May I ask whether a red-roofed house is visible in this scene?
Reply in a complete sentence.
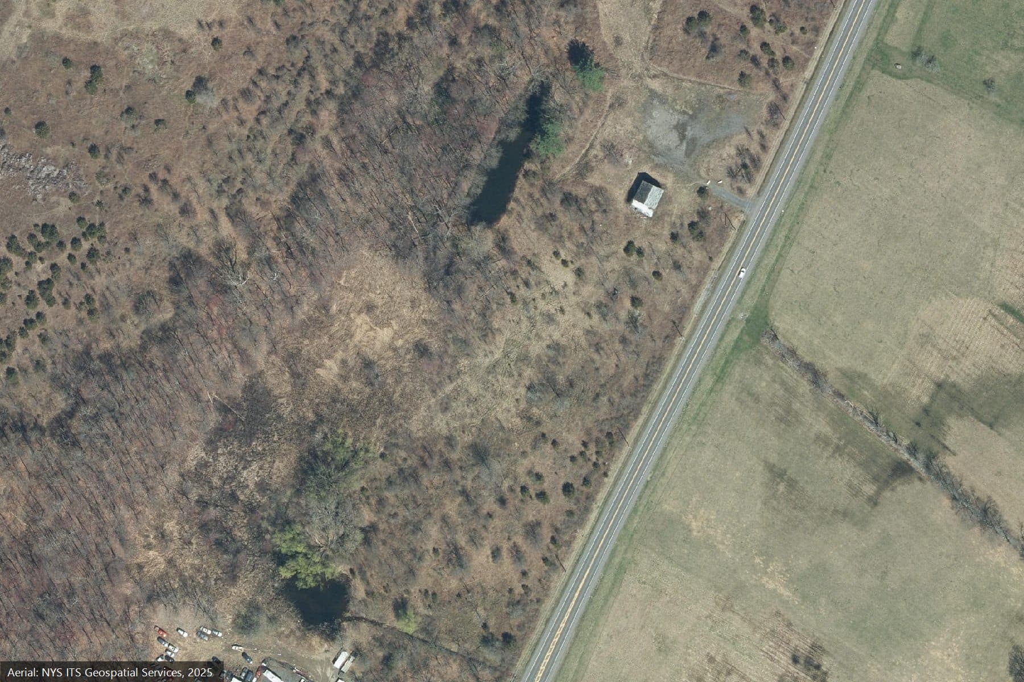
No, this view has no red-roofed house in it.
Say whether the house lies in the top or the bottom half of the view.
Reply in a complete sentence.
The house is in the top half of the image.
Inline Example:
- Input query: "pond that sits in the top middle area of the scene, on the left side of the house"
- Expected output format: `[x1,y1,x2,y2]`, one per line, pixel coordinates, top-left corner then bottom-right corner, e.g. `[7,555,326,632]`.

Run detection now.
[466,73,553,226]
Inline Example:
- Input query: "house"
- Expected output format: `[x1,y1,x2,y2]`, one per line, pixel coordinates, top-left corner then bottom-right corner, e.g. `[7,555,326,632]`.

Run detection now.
[630,179,661,215]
